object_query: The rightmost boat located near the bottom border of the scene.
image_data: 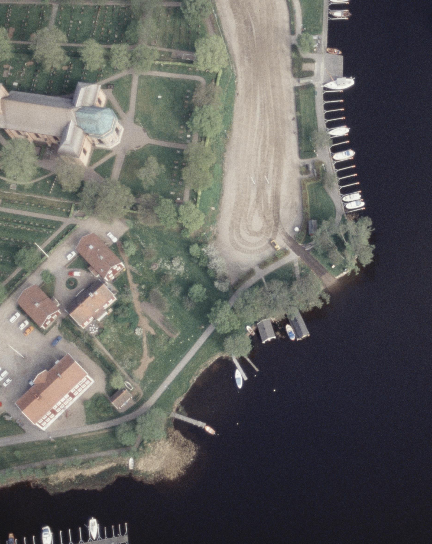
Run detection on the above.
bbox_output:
[86,518,98,539]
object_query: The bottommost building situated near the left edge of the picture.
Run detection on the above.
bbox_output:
[15,353,94,431]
